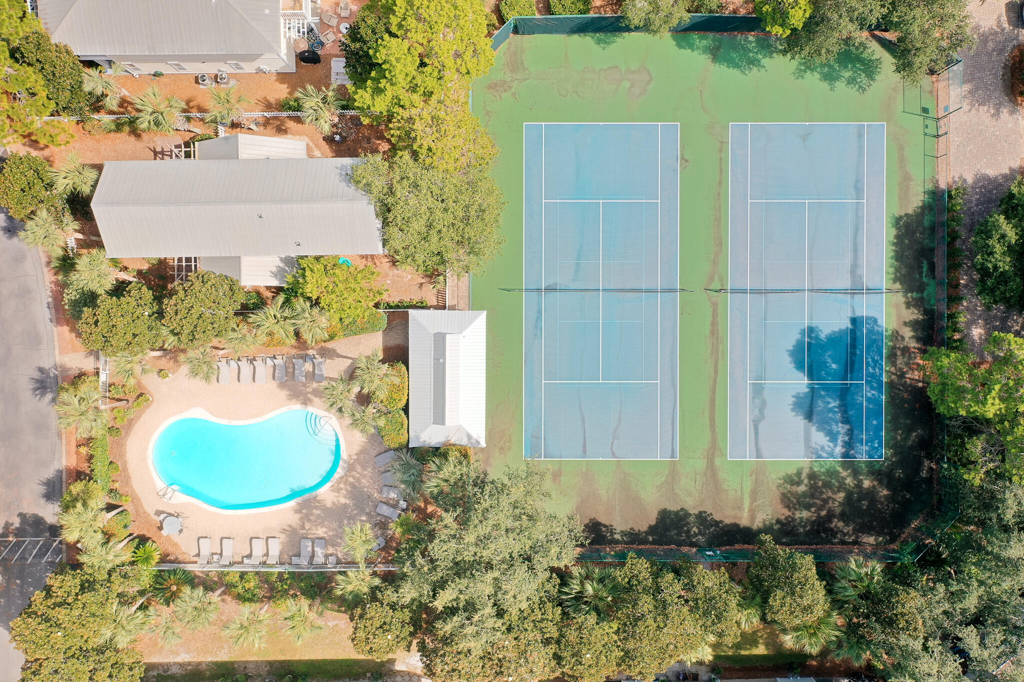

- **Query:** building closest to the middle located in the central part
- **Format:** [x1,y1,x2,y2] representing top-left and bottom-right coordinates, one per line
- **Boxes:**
[408,310,487,447]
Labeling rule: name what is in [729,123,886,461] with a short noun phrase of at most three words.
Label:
tennis court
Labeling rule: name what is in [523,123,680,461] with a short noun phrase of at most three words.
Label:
tennis court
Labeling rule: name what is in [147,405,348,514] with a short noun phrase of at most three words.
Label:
swimming pool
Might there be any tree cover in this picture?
Yes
